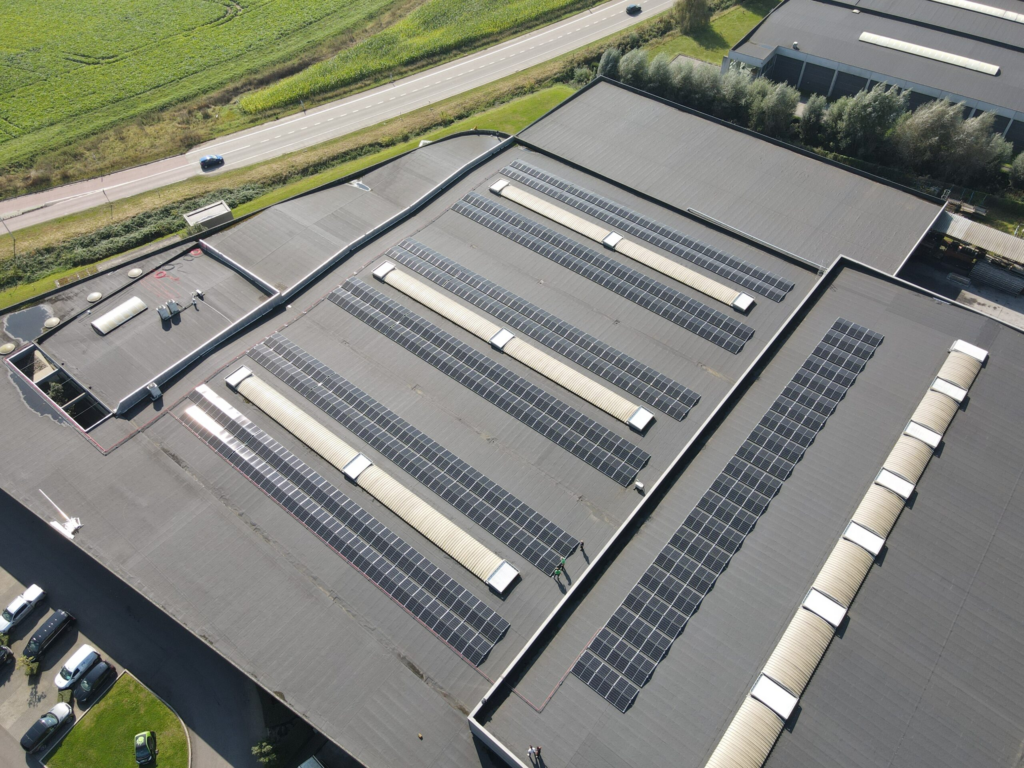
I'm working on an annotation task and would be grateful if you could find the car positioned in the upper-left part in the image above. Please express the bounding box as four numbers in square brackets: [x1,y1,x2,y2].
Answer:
[197,155,223,169]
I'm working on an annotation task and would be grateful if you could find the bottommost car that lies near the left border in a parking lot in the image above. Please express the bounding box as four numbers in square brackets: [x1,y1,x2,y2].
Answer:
[17,706,75,758]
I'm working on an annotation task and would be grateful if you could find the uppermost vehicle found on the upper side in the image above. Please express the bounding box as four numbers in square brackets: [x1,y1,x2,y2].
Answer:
[625,3,643,15]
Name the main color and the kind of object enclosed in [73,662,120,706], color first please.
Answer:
black car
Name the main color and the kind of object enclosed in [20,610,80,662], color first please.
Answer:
black car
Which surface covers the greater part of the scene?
buildings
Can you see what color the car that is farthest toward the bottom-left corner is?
black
